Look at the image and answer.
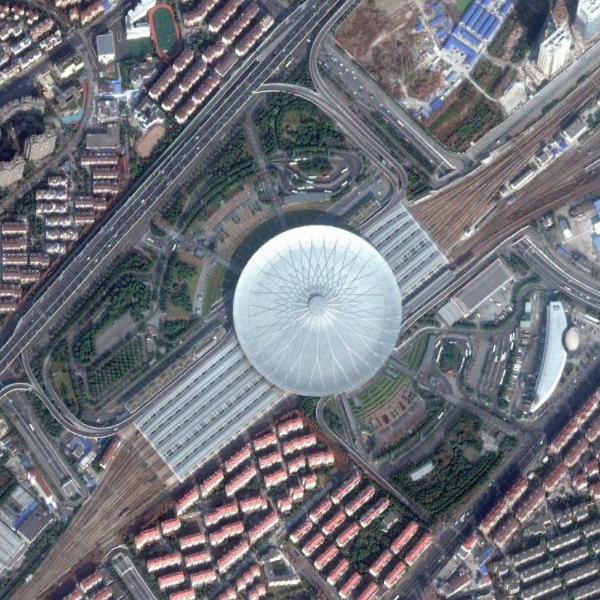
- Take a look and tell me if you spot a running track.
Yes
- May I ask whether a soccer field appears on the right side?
No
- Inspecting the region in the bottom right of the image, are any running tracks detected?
No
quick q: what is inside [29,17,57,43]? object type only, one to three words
house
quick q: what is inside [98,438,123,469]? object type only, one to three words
house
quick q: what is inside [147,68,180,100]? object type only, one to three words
building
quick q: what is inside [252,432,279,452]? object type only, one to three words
building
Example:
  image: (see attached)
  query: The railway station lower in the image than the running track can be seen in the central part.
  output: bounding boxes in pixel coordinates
[133,202,448,479]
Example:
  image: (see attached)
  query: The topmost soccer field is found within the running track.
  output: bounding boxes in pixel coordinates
[153,8,178,56]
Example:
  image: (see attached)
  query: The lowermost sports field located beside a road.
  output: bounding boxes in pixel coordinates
[133,124,166,159]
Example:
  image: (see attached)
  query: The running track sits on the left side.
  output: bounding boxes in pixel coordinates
[149,3,182,60]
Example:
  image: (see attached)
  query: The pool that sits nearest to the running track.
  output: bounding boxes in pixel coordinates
[60,110,84,124]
